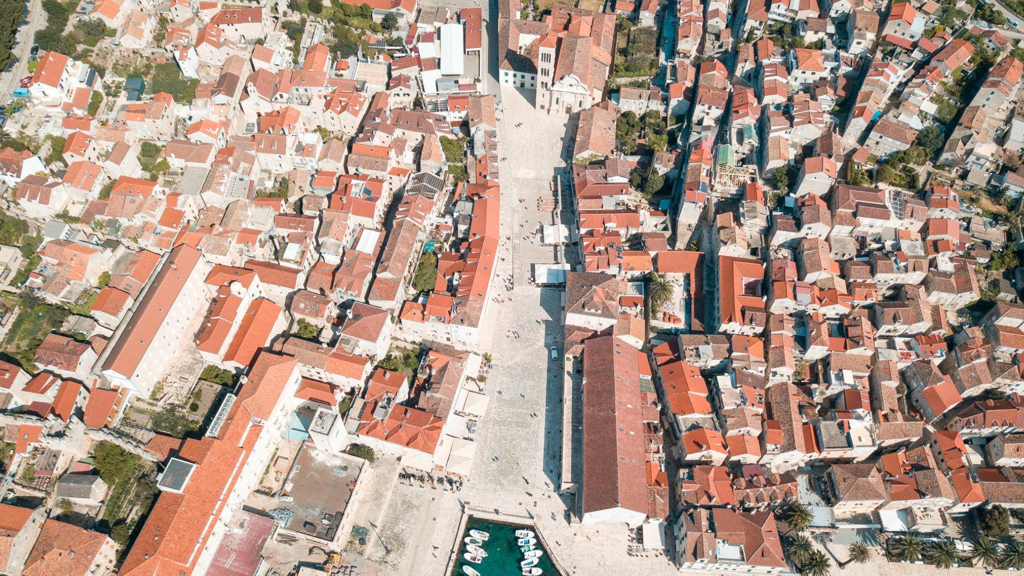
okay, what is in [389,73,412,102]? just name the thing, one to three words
house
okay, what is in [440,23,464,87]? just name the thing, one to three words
house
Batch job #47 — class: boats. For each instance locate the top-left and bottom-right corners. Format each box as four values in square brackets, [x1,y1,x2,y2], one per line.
[518,555,545,569]
[458,564,484,576]
[469,530,492,541]
[458,553,485,564]
[516,538,540,546]
[520,549,547,560]
[512,529,536,538]
[465,545,489,559]
[520,567,547,576]
[517,545,537,554]
[462,537,485,547]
